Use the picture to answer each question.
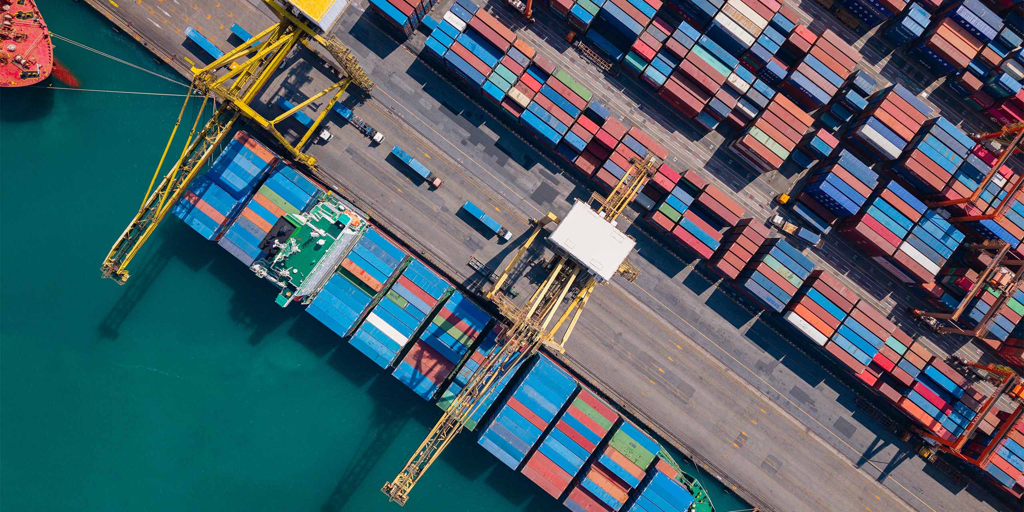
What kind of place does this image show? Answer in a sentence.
The area seen from above is a port.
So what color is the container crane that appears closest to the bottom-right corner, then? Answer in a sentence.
The container crane that appears closest to the bottom-right corner looks red in the image.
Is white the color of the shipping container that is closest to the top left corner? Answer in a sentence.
No, the shipping container that is closest to the top left corner is actually blue.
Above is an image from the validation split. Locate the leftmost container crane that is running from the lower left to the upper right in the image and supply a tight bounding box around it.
[94,0,380,282]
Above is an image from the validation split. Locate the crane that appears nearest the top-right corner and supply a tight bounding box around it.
[927,119,1024,223]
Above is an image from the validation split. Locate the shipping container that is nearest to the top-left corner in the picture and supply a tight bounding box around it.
[185,26,227,60]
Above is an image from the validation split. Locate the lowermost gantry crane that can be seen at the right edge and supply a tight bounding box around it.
[897,351,1024,468]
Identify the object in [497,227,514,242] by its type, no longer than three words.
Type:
vehicle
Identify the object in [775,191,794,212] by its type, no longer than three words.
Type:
vehicle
